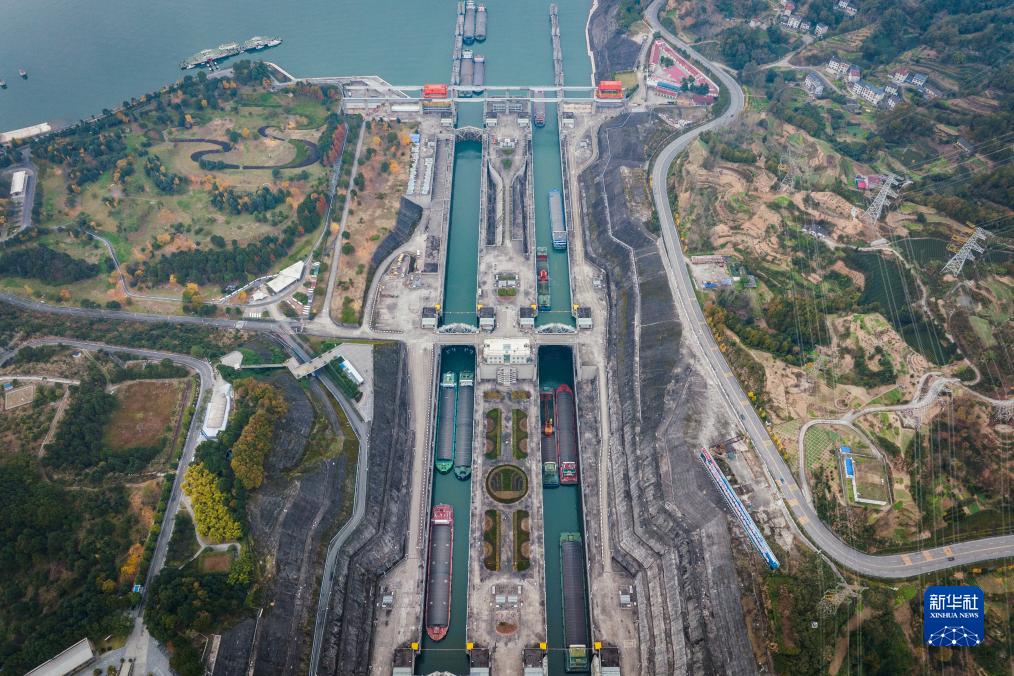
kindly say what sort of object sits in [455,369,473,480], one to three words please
ship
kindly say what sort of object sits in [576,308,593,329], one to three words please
house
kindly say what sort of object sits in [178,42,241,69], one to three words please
pier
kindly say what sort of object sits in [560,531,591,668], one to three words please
ship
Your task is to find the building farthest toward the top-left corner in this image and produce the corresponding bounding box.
[5,176,27,200]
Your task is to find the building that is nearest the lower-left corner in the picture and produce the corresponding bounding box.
[15,634,99,676]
